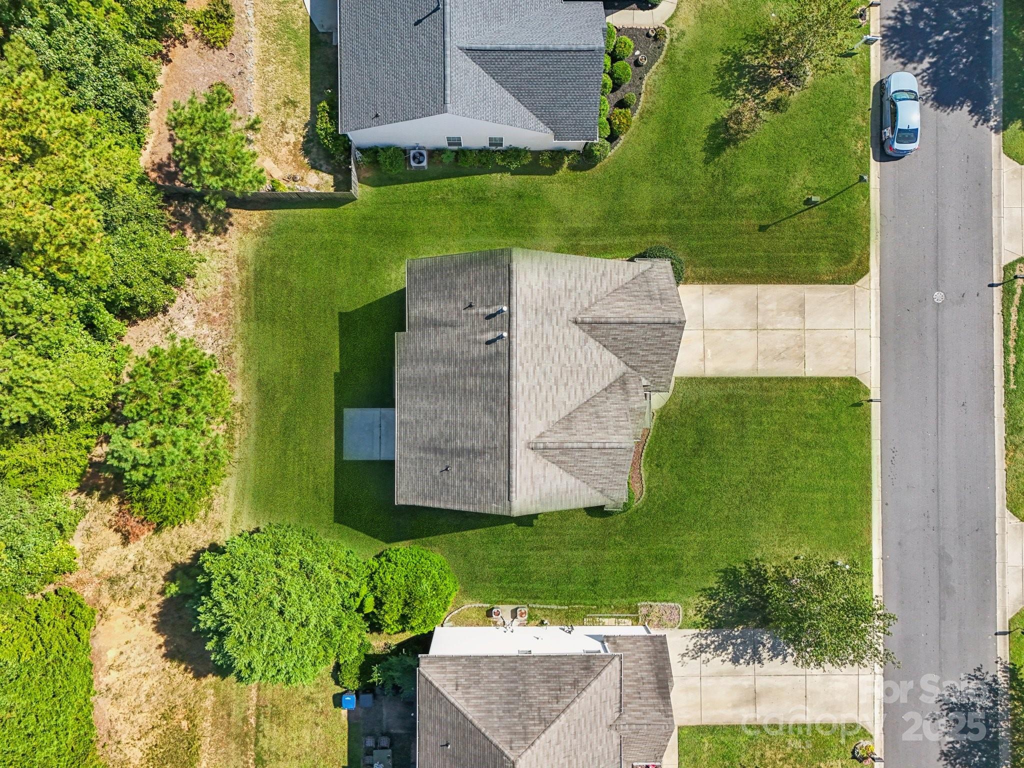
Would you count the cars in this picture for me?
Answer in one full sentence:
The picture shows just 1 car.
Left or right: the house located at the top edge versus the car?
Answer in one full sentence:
It is on the left side of the car that the house located at the top edge is positioned.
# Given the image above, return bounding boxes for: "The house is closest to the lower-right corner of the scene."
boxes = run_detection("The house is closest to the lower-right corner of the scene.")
[415,624,675,768]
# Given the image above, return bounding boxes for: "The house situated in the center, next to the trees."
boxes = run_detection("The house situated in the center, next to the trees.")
[394,248,685,517]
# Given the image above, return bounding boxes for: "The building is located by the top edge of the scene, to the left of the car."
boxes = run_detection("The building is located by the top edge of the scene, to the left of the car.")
[337,0,604,150]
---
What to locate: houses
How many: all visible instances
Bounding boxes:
[415,624,675,768]
[394,248,685,517]
[337,0,604,150]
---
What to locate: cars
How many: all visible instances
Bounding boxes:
[881,70,928,158]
